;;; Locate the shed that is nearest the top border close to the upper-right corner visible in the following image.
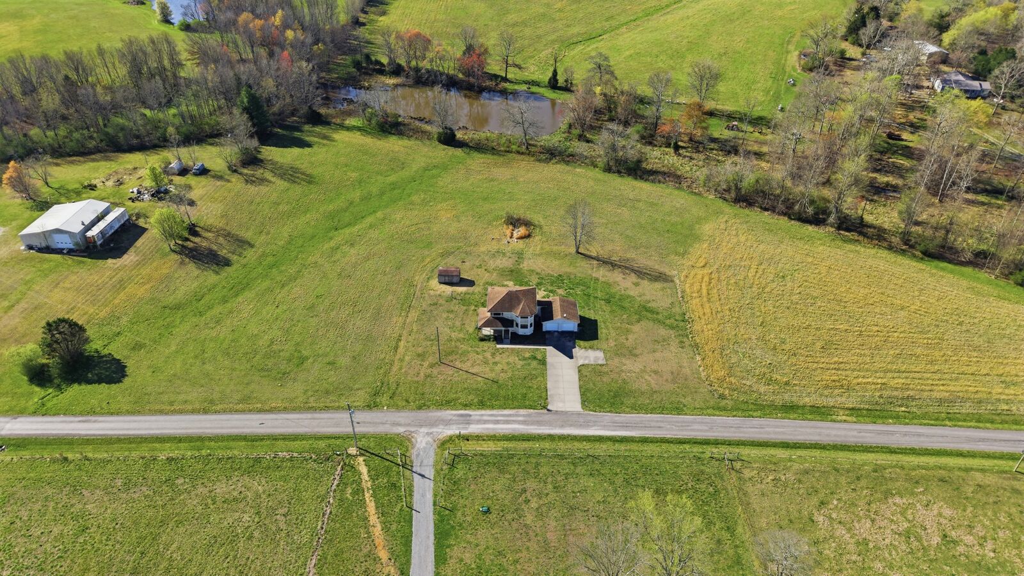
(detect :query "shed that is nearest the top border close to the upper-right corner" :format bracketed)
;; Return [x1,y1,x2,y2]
[909,43,957,64]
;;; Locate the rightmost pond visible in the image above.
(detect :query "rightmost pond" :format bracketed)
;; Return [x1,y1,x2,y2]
[328,87,567,135]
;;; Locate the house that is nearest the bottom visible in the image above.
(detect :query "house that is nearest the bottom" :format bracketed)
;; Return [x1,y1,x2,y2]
[478,287,581,345]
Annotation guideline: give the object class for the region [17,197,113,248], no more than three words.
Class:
barn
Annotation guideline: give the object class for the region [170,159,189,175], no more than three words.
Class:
camper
